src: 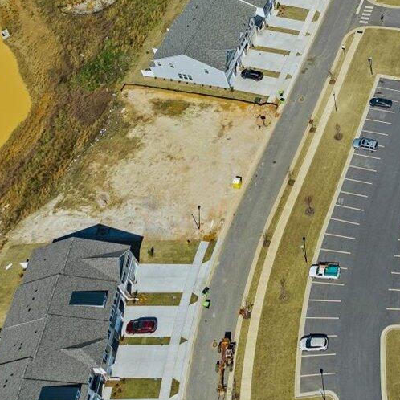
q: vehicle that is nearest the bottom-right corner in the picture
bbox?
[298,333,330,350]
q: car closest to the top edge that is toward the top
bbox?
[240,67,263,79]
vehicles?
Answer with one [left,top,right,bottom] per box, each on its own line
[307,260,343,277]
[298,333,330,350]
[125,316,157,333]
[369,93,394,107]
[353,137,379,150]
[212,327,235,399]
[240,67,263,79]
